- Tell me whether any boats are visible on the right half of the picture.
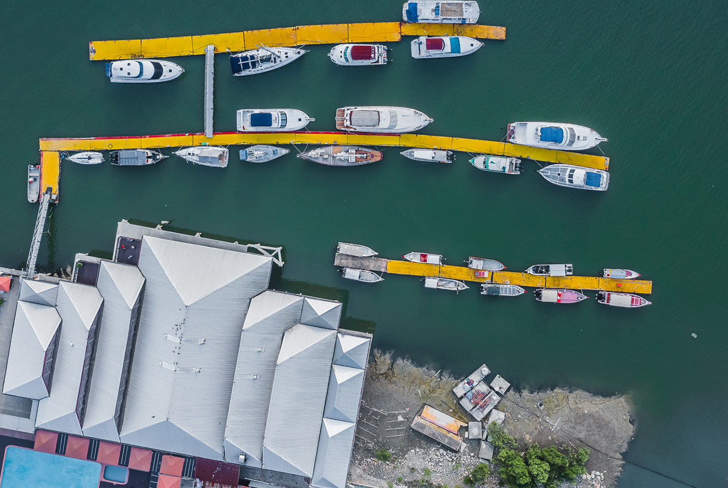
Yes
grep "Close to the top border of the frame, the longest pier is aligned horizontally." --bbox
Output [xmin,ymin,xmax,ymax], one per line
[90,22,401,61]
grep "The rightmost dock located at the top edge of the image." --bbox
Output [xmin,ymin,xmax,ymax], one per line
[402,22,506,40]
